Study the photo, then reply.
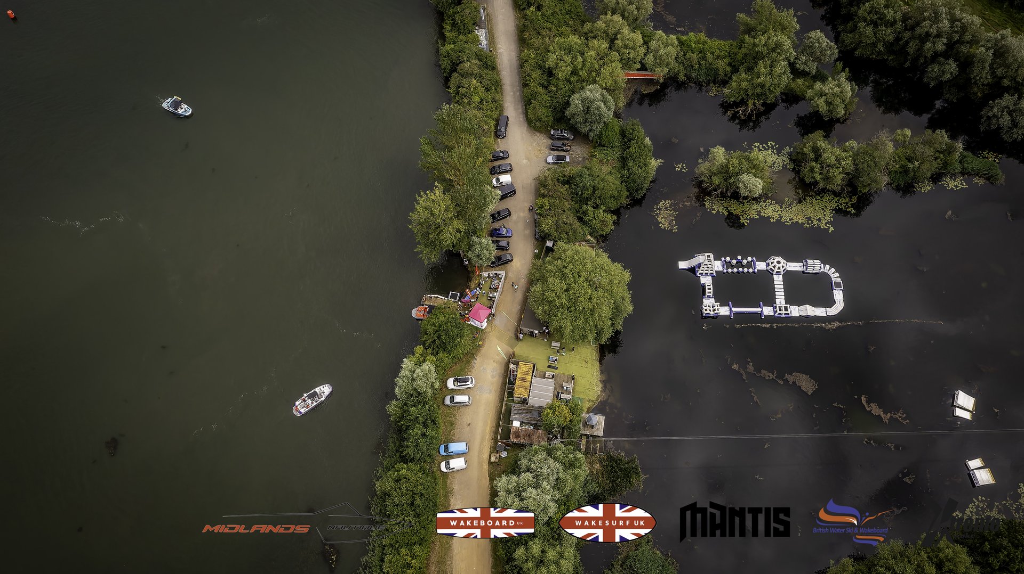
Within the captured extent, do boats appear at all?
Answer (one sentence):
Yes, you can see a boat in this photo.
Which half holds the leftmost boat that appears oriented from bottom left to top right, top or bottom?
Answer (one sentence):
The bottom half of the photo is where the leftmost boat that appears oriented from bottom left to top right is.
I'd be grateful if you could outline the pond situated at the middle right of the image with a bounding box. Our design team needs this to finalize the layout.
[578,0,1024,574]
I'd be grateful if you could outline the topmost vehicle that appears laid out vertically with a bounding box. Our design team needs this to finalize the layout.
[496,114,508,136]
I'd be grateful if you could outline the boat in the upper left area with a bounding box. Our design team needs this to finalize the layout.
[161,96,189,113]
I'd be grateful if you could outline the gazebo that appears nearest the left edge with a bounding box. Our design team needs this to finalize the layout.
[469,303,494,331]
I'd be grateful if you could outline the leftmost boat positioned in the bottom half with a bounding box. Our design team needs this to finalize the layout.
[290,383,332,419]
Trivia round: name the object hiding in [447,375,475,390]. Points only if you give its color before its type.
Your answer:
white car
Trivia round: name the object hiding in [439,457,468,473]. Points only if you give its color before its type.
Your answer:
white vehicle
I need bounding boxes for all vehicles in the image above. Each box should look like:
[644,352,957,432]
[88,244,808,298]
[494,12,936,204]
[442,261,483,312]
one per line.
[490,161,514,176]
[496,114,508,136]
[548,139,572,152]
[447,375,475,390]
[492,240,512,251]
[547,153,570,164]
[440,441,468,456]
[490,172,513,187]
[490,225,513,239]
[443,393,472,407]
[490,206,513,224]
[439,457,468,473]
[489,252,515,269]
[491,151,511,162]
[495,181,521,201]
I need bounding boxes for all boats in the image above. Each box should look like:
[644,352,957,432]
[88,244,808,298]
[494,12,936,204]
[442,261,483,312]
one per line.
[411,305,434,319]
[290,383,332,419]
[161,96,189,113]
